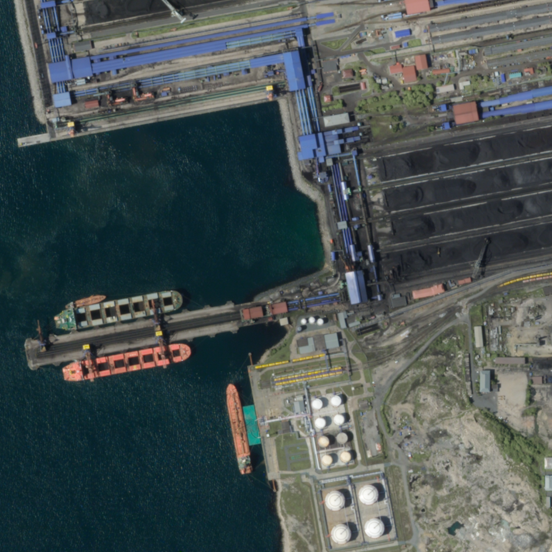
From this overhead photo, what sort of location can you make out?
port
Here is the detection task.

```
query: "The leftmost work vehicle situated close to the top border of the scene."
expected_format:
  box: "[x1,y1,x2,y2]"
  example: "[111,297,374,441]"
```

[162,0,186,23]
